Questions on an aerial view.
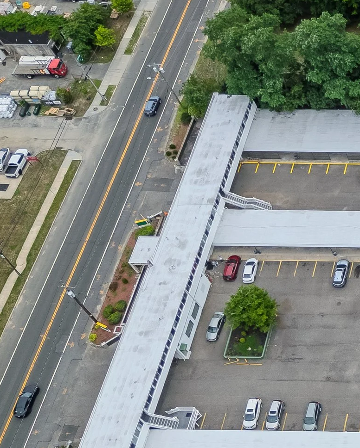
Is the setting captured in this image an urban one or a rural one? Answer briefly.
urban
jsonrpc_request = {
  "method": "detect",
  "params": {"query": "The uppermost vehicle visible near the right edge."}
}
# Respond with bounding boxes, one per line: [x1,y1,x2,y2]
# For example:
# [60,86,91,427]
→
[332,259,350,288]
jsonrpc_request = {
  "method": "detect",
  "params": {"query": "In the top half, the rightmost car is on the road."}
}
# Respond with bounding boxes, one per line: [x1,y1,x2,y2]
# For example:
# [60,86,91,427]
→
[142,94,164,118]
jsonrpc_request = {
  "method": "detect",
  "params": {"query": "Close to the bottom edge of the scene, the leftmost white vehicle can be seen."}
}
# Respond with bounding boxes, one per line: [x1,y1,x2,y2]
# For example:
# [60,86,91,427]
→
[241,397,264,431]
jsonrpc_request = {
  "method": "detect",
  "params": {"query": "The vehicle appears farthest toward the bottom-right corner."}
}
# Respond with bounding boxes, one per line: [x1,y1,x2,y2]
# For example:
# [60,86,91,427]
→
[301,399,323,432]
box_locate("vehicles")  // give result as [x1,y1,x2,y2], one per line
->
[301,399,323,432]
[241,397,264,431]
[332,259,350,288]
[0,149,12,173]
[2,148,32,179]
[15,385,41,419]
[222,255,242,283]
[142,94,164,118]
[264,398,285,431]
[205,311,226,343]
[241,257,260,286]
